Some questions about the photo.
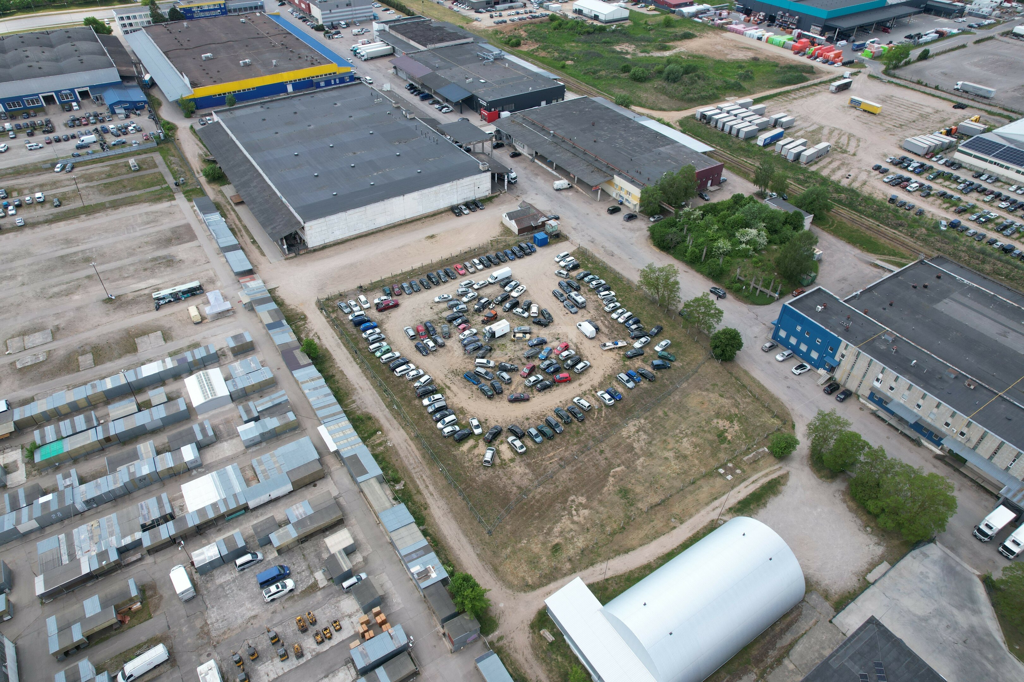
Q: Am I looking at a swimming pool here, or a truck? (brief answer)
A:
truck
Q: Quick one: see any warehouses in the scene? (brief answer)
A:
Yes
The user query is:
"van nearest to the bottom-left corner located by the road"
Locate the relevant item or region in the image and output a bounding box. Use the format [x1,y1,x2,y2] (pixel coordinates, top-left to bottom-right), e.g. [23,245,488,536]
[121,644,169,681]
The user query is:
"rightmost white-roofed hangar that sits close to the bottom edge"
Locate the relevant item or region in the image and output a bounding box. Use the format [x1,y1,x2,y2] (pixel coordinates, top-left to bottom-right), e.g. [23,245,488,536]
[543,508,808,682]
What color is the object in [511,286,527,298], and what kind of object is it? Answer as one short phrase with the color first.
white vehicle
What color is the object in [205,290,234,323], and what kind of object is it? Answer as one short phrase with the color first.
white tent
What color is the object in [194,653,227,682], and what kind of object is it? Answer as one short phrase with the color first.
white camper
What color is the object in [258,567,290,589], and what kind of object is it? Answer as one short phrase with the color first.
blue vehicle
